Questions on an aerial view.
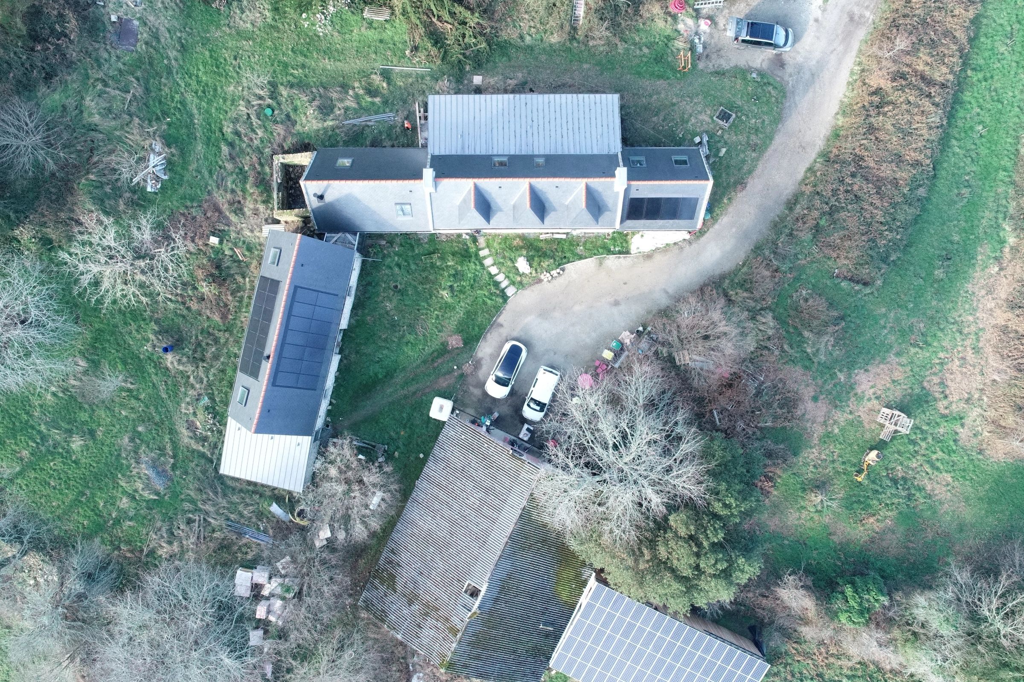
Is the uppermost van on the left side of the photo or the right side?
right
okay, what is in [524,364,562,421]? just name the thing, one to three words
van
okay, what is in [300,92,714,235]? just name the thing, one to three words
house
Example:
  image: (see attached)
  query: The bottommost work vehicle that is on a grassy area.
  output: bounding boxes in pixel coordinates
[851,444,884,481]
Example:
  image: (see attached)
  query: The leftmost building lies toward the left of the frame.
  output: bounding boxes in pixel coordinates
[219,229,374,494]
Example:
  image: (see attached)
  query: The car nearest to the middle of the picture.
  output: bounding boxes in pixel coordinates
[488,340,524,398]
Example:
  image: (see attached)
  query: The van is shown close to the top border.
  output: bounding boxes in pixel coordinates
[720,14,791,56]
